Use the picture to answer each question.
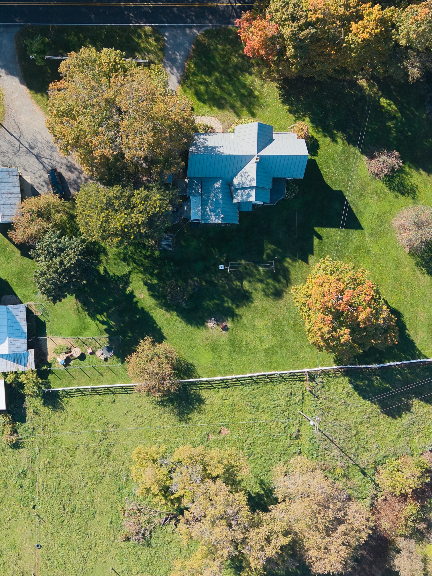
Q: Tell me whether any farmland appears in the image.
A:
Yes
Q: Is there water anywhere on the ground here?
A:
No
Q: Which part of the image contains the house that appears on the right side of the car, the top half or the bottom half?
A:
top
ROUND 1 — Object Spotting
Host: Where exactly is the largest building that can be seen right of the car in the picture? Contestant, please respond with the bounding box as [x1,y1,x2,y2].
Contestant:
[185,121,309,223]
